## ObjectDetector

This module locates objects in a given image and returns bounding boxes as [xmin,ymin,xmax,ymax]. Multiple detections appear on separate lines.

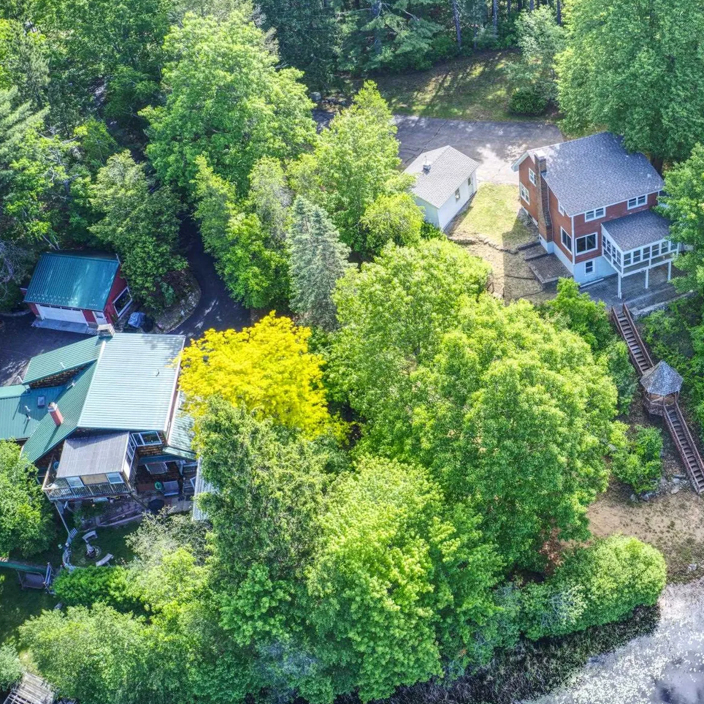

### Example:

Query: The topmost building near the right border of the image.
[512,127,682,298]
